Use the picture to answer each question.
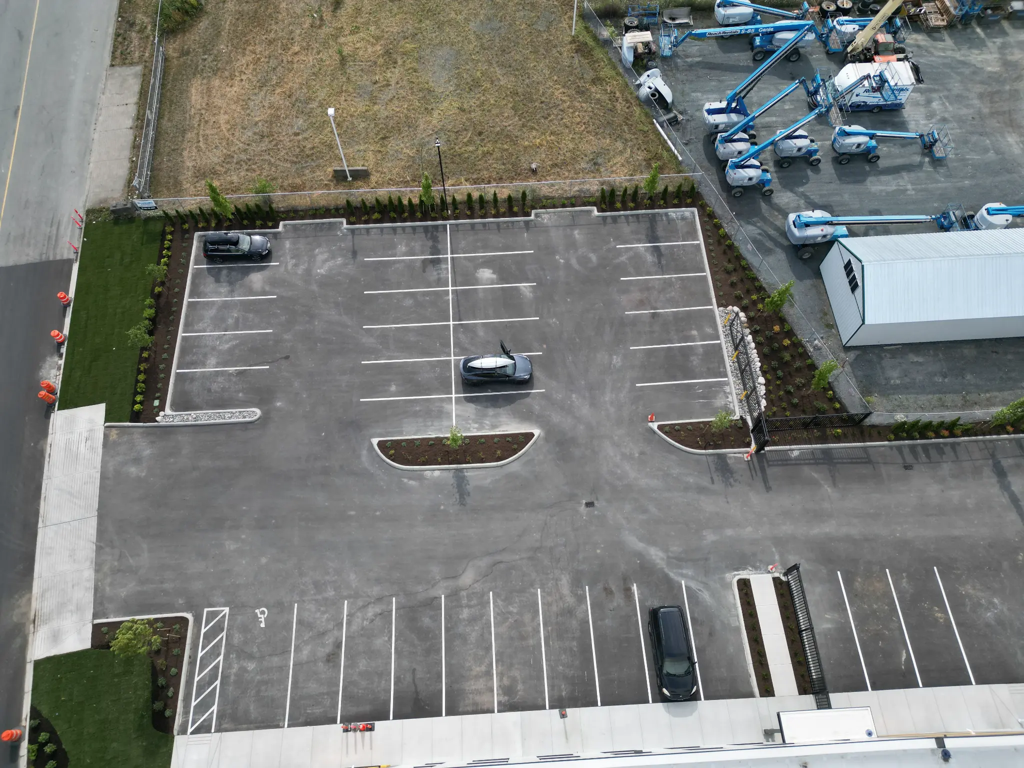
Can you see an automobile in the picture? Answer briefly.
Yes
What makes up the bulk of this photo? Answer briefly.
paved ground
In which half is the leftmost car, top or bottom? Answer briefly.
top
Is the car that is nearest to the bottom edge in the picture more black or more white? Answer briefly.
black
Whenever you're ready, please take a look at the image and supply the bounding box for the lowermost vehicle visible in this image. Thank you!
[648,605,699,703]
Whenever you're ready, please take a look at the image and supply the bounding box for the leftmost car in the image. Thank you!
[201,229,273,264]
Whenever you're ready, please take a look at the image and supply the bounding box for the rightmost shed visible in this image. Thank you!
[819,230,1024,347]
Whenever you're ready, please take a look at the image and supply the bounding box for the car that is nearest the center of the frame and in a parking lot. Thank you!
[460,337,533,388]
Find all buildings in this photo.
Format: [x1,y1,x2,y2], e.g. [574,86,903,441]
[819,230,1024,347]
[351,705,1024,768]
